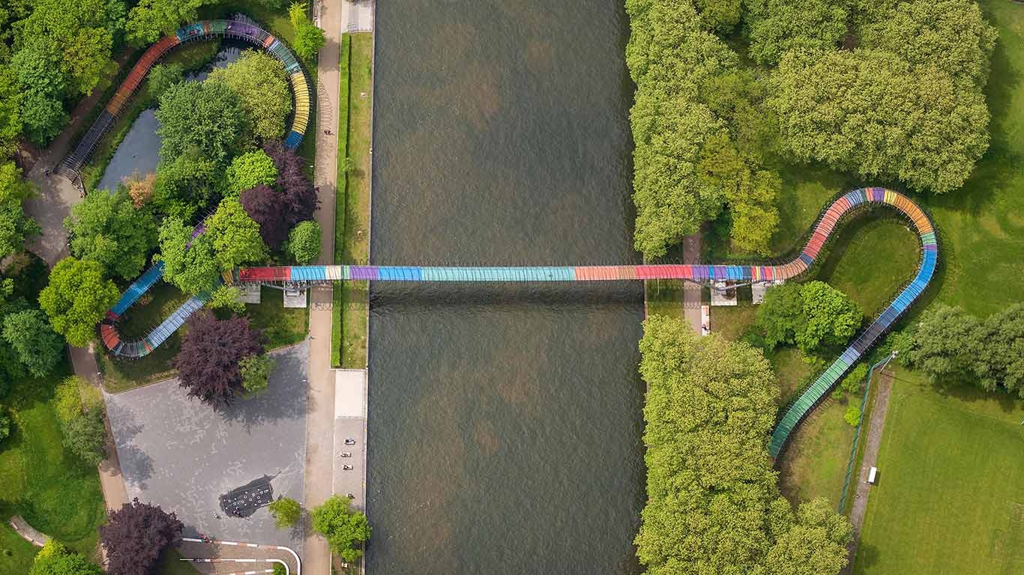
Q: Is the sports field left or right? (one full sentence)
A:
You can find the sports field on the right side of the picture.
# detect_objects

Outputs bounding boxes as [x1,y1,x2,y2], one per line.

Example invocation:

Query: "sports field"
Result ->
[858,376,1024,575]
